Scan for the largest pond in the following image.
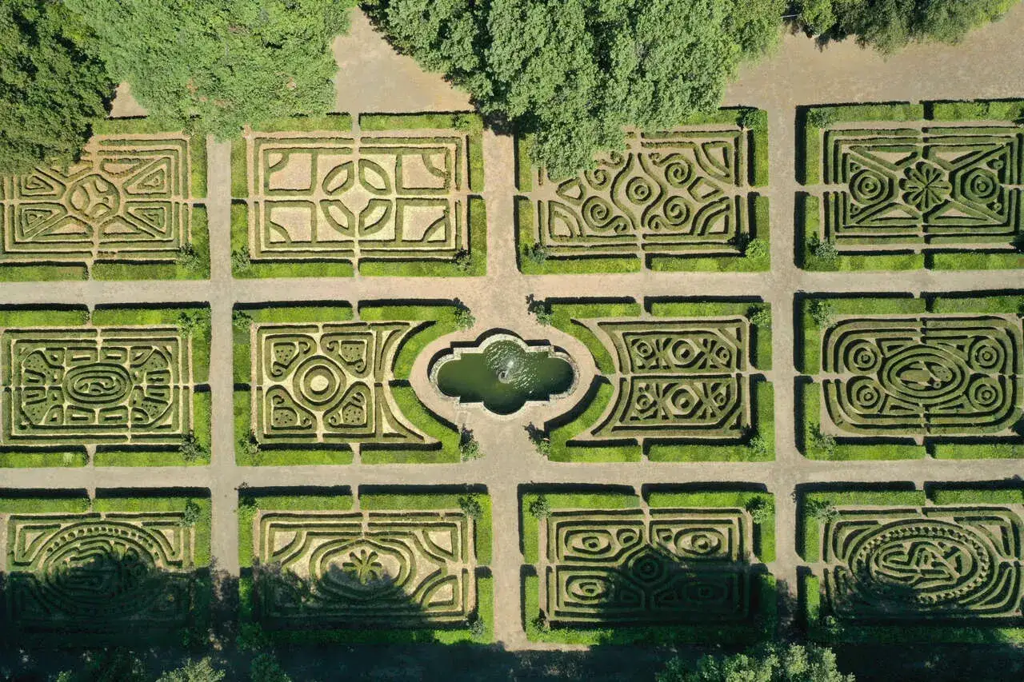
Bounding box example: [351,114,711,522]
[434,336,578,419]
